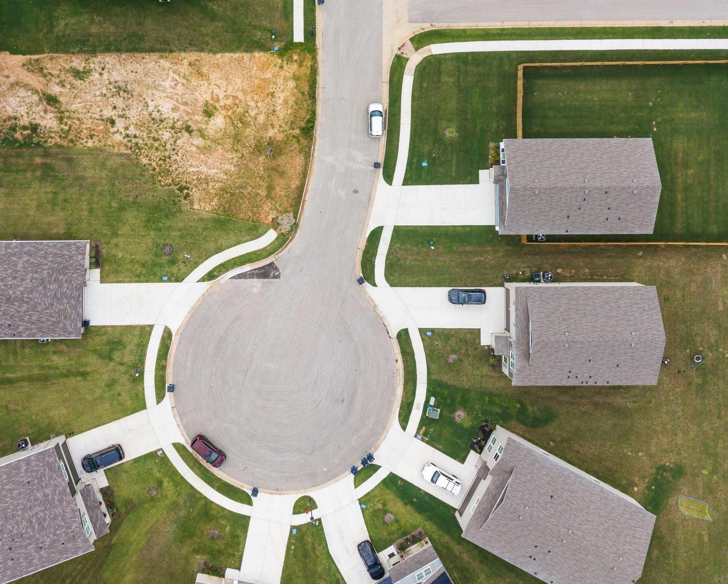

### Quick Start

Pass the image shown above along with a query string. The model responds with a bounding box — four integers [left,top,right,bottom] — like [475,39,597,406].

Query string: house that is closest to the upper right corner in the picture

[489,138,662,235]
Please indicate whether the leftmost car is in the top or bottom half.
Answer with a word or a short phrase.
bottom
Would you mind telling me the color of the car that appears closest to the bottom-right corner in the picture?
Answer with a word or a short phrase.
white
